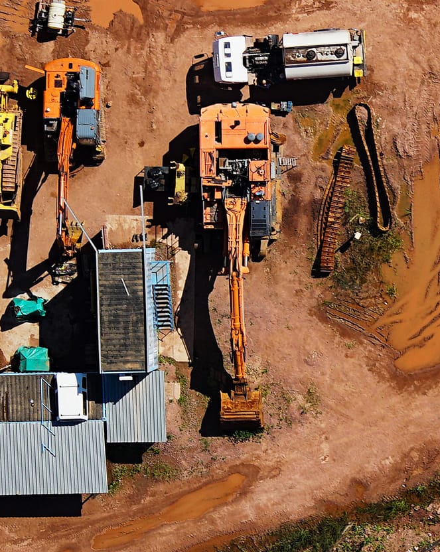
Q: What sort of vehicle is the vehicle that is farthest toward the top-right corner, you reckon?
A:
truck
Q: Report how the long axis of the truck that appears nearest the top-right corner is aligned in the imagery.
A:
from side to side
